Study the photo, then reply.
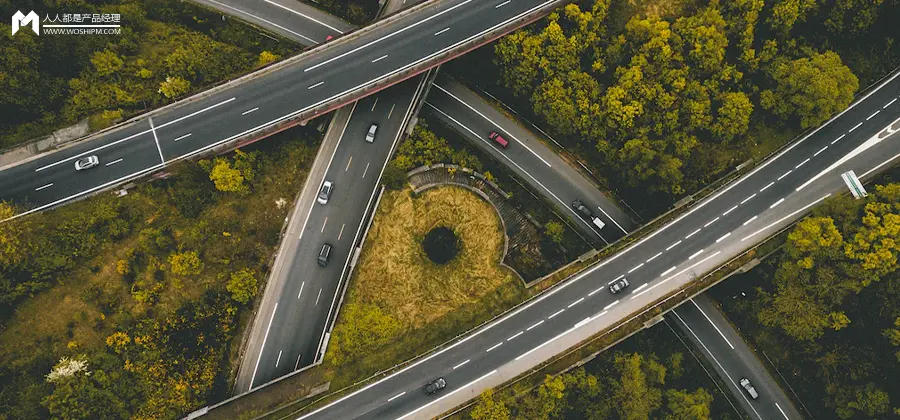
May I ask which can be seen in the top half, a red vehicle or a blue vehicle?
red vehicle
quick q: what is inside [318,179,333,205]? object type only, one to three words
car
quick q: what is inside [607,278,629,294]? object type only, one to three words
car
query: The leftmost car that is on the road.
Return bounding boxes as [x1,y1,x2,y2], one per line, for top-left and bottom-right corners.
[76,155,101,170]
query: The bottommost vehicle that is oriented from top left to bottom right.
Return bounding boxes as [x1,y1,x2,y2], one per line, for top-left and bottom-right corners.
[739,377,758,399]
